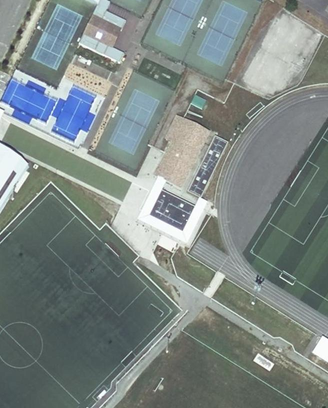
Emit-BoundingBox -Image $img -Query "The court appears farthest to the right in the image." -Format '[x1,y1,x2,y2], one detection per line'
[182,0,262,81]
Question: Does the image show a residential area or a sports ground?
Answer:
sports ground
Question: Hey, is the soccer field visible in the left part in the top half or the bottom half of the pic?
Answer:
bottom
